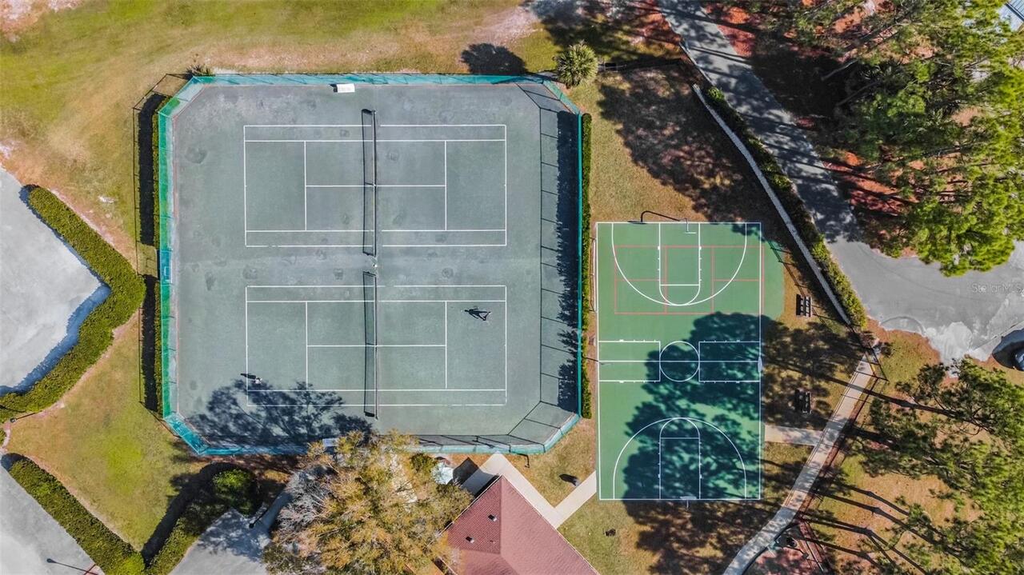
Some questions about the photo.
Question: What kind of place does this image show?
sports ground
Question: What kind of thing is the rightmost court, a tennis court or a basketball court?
basketball court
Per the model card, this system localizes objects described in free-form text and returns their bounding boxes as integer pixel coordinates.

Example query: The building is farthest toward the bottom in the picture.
[438,475,606,575]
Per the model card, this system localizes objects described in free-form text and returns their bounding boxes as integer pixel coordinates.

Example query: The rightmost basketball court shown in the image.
[595,221,785,503]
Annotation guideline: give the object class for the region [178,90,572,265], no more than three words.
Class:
tennis court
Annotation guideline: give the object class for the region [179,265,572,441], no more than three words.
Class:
tennis court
